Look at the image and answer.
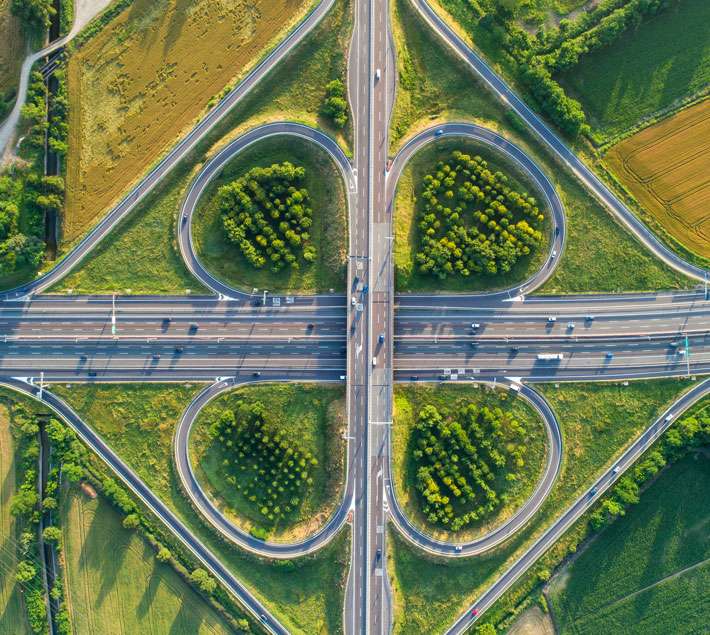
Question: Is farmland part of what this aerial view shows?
Yes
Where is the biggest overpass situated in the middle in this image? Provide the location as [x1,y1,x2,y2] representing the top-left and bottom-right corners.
[345,281,395,397]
